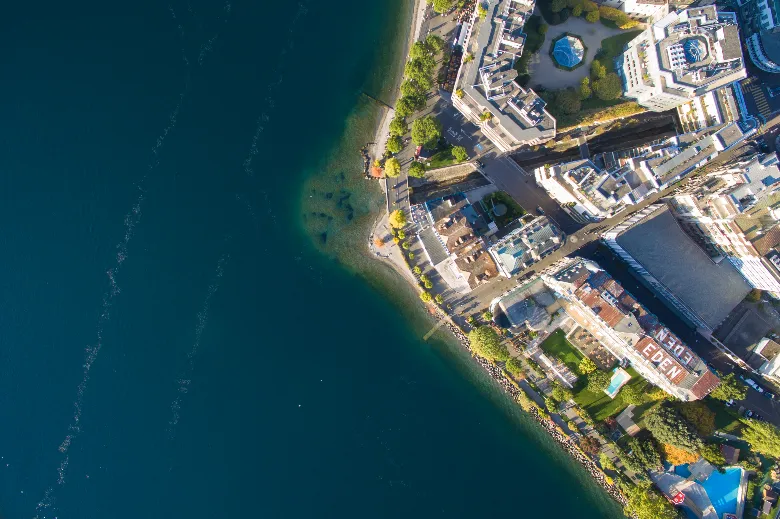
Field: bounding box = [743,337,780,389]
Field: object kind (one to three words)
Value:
building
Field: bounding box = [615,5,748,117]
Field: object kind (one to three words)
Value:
building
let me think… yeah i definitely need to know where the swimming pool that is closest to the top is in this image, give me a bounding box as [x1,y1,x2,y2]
[605,367,632,399]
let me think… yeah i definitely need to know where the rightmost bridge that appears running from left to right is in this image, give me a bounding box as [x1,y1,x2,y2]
[470,157,529,184]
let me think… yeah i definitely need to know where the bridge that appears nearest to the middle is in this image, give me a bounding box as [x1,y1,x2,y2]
[386,177,412,216]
